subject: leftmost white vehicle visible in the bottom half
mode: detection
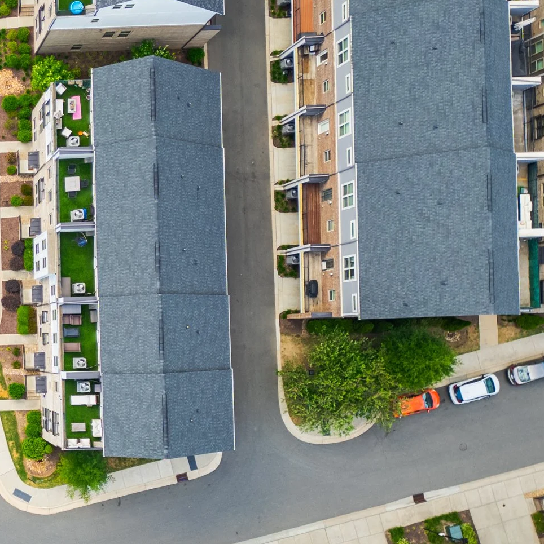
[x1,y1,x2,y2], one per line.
[447,374,500,404]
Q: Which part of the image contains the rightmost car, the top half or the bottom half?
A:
bottom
